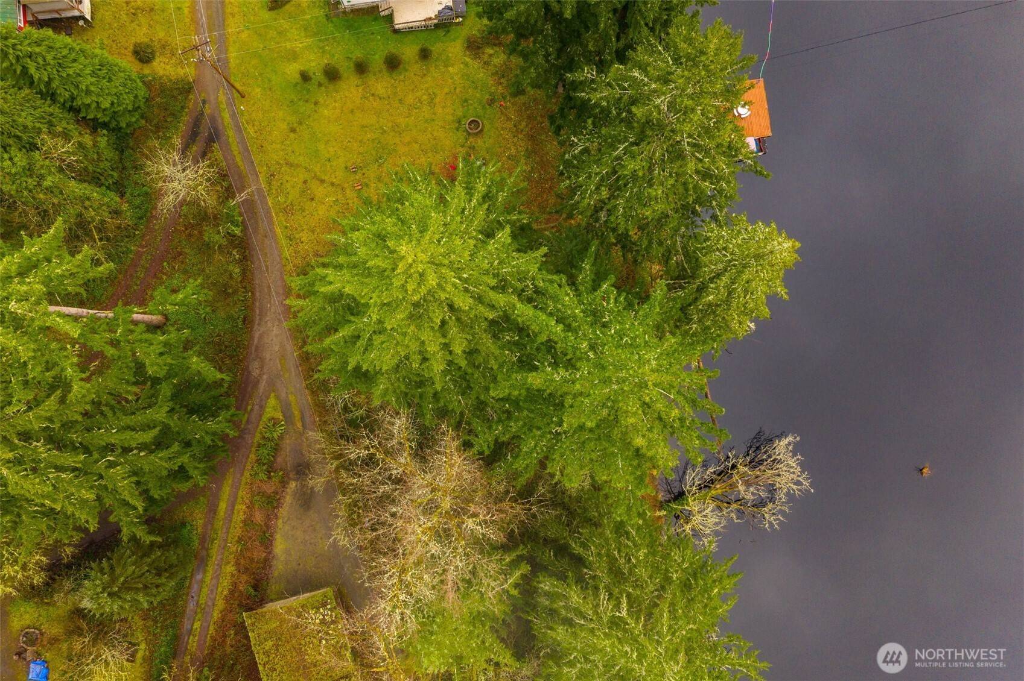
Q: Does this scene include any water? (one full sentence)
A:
Yes, some water is visible.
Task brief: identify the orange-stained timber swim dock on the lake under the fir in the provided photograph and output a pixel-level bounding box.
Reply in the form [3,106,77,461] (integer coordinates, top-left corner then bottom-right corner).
[724,78,772,144]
